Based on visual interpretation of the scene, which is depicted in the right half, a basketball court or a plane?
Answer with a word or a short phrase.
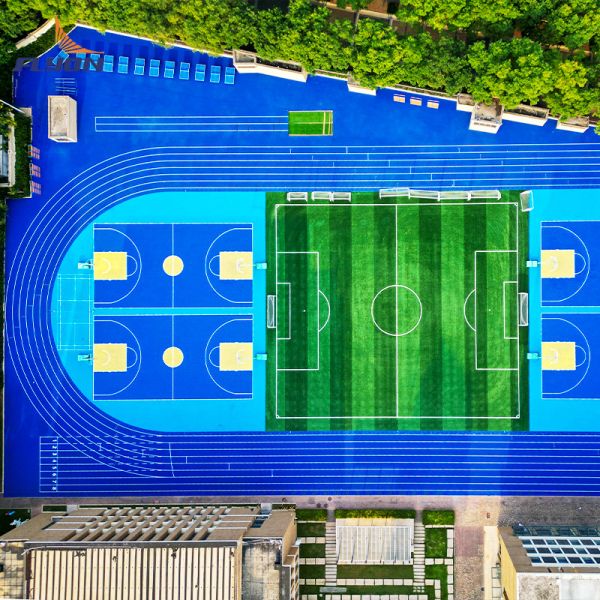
basketball court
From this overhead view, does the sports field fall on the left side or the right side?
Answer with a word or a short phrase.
right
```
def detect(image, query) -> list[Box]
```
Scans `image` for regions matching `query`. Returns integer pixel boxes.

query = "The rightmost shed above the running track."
[557,110,594,132]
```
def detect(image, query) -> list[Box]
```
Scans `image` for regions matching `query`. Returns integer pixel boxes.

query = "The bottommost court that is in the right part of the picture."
[541,313,600,399]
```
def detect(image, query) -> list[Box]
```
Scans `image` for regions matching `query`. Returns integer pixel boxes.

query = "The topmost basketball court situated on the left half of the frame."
[94,222,253,308]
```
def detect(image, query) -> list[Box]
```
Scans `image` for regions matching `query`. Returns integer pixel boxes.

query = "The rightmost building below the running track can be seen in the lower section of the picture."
[497,522,600,600]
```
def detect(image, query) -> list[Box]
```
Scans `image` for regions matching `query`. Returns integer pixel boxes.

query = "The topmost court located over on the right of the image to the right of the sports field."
[541,220,600,306]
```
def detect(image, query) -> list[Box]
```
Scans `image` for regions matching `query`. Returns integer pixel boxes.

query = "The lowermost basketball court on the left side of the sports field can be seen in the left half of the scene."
[94,314,253,400]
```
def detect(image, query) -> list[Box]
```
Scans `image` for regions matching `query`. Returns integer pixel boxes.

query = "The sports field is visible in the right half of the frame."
[265,190,530,431]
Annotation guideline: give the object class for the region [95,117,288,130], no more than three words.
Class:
runway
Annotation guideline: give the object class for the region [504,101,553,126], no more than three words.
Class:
shed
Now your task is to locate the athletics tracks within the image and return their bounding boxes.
[6,144,600,491]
